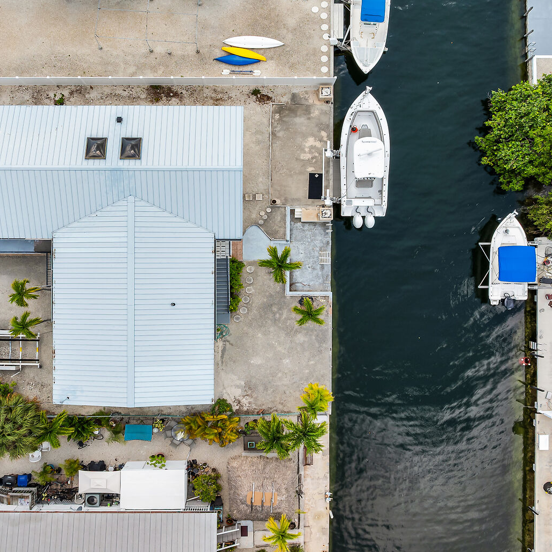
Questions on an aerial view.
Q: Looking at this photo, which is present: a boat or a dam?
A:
boat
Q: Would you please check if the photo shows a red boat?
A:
No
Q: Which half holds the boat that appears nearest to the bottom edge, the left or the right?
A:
right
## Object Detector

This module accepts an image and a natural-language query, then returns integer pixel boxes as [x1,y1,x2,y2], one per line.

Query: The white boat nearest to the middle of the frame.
[340,84,389,231]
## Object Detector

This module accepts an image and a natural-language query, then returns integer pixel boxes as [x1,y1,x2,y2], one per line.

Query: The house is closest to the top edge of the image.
[0,106,243,408]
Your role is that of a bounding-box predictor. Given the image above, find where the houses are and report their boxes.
[0,457,241,552]
[0,106,243,408]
